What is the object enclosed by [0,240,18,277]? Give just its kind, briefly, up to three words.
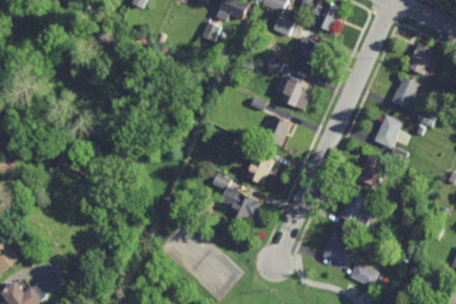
house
